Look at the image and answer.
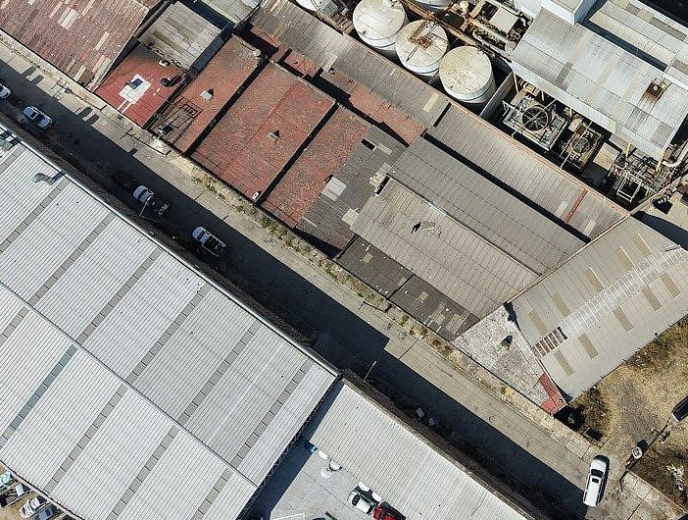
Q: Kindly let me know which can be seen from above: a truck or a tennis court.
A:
truck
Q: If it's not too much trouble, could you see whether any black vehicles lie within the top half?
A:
Yes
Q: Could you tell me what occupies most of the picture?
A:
buildings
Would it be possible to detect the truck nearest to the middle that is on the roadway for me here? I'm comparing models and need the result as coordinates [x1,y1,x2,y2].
[192,227,231,261]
